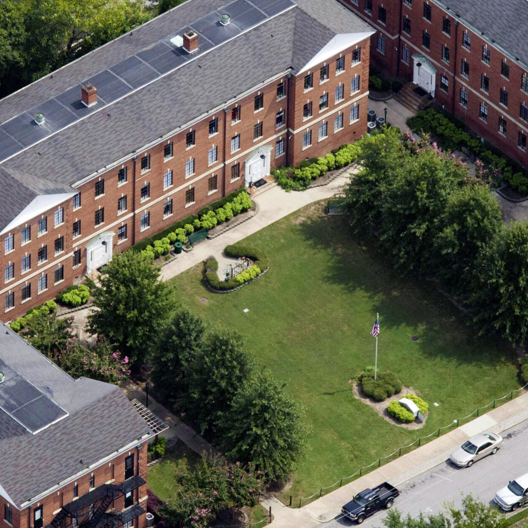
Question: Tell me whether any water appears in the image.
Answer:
No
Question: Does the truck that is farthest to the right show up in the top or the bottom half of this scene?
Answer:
bottom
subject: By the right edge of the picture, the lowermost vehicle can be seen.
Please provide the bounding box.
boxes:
[492,476,528,513]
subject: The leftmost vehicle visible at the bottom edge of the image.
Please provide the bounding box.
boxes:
[339,483,404,528]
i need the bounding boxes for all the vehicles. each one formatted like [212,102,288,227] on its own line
[492,476,528,513]
[448,432,505,471]
[339,483,404,528]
